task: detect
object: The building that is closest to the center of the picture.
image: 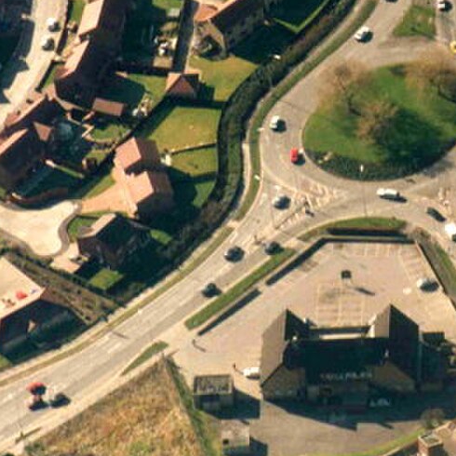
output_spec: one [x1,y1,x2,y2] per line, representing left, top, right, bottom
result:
[125,168,176,218]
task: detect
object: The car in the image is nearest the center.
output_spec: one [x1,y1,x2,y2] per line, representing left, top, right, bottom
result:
[224,247,242,261]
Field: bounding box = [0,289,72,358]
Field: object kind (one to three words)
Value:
building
